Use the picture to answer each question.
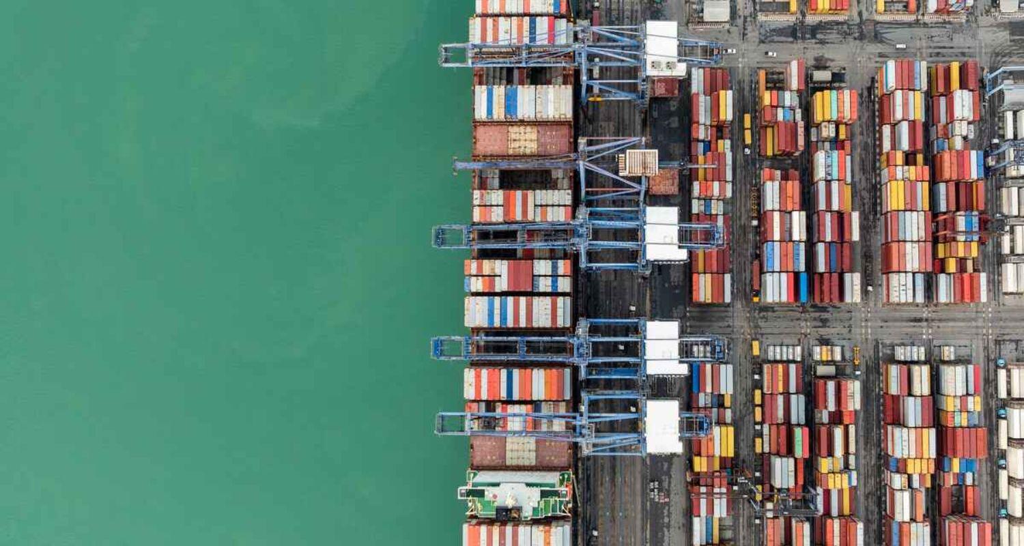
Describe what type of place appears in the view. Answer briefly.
port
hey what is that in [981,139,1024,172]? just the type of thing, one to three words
container crane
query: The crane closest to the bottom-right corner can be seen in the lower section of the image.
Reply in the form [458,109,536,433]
[748,475,819,520]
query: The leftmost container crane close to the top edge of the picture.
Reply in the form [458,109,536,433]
[438,22,724,122]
